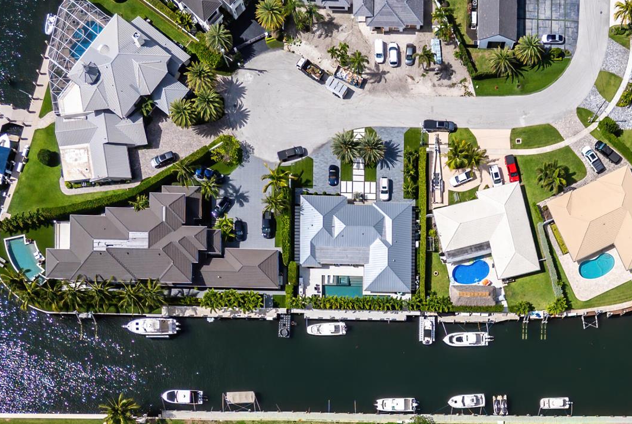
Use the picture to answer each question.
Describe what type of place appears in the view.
residential area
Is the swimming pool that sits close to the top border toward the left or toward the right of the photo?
left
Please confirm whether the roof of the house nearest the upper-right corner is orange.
No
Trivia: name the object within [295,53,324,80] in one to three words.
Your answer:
truck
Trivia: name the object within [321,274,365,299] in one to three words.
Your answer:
swimming pool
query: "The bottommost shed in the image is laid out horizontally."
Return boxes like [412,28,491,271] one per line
[450,286,497,306]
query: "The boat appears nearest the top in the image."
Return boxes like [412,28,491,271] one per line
[44,8,57,34]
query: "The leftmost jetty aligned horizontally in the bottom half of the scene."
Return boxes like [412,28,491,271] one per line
[162,306,290,319]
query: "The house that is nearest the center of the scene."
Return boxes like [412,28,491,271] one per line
[301,195,411,293]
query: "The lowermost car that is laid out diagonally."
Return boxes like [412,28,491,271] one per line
[211,196,232,215]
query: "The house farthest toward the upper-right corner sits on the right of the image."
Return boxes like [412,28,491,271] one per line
[476,0,518,46]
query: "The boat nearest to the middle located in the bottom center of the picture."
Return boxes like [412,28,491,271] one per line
[306,322,348,335]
